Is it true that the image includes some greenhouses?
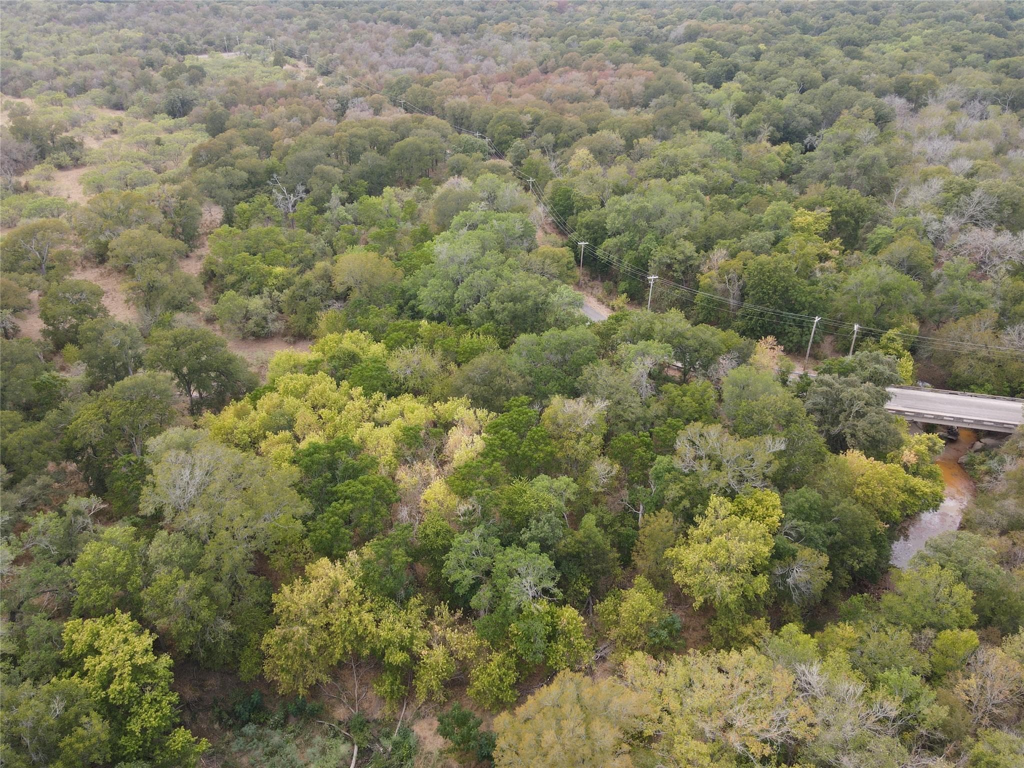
No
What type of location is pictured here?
forest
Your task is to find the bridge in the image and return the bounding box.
[887,381,1024,453]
